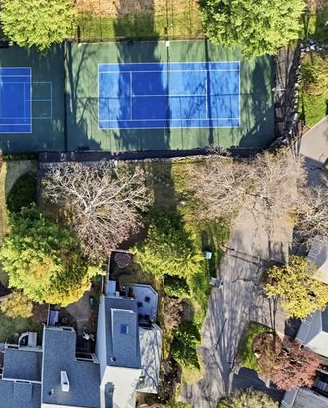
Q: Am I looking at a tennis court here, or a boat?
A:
tennis court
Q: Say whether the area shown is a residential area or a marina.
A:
residential area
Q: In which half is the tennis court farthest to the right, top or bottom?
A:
top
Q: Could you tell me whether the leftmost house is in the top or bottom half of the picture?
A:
bottom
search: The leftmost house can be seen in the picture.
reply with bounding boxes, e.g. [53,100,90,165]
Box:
[0,278,162,408]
